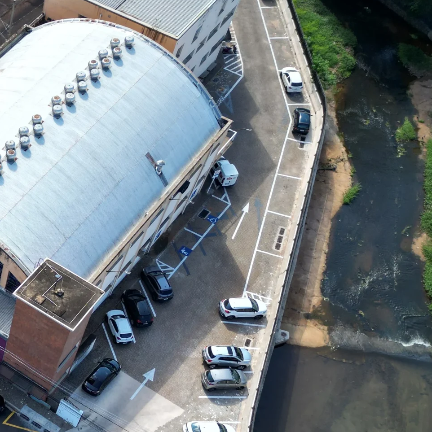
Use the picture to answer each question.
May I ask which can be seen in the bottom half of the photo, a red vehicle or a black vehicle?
black vehicle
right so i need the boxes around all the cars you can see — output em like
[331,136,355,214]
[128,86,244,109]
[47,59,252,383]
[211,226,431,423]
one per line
[196,368,250,393]
[279,67,304,95]
[120,288,156,330]
[291,108,314,137]
[83,358,125,398]
[103,307,136,348]
[215,293,268,318]
[200,341,254,368]
[181,422,236,432]
[138,266,178,306]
